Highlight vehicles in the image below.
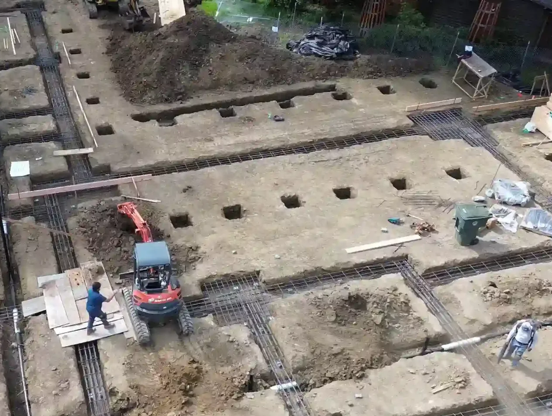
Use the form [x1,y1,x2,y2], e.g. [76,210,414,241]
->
[117,199,195,340]
[83,0,147,37]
